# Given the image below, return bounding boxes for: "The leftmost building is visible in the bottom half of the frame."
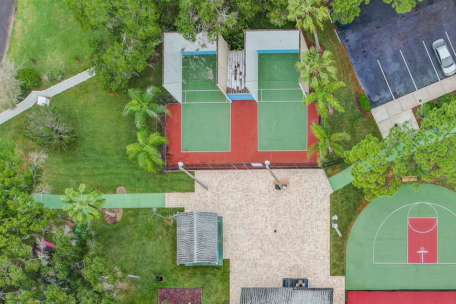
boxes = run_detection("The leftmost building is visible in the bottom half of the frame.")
[176,210,223,265]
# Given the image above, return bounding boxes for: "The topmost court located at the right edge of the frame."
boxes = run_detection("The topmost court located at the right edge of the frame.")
[345,183,456,289]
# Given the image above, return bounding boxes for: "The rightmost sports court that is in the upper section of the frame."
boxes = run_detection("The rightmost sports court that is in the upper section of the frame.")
[244,28,324,167]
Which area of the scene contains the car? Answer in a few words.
top right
